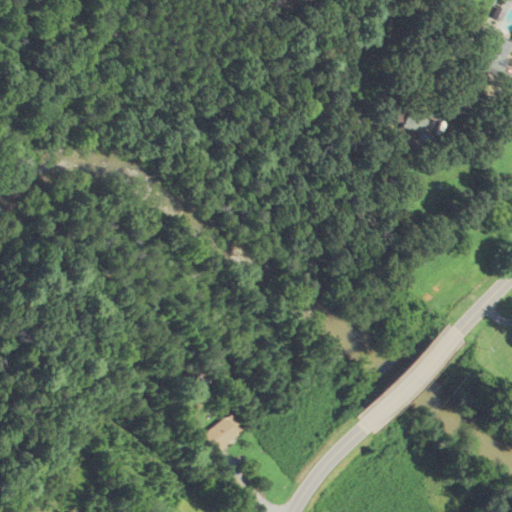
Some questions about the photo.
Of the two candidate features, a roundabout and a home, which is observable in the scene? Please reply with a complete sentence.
I can see a home in this picture.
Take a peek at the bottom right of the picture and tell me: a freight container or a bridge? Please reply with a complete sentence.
You can see a bridge at the bottom right of the picture.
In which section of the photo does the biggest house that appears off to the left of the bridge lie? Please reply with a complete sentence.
The biggest house that appears off to the left of the bridge is located in the bottom region of the scene.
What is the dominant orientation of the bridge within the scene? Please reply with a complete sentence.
What the image shows is the bridge lying on a diagonal.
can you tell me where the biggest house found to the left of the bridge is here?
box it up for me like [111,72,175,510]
[208,415,242,454]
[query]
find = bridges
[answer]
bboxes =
[358,324,467,437]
